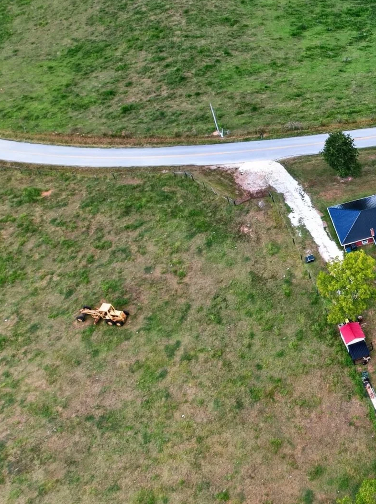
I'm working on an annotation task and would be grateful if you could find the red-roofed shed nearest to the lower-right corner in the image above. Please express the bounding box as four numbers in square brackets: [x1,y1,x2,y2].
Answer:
[340,324,365,354]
